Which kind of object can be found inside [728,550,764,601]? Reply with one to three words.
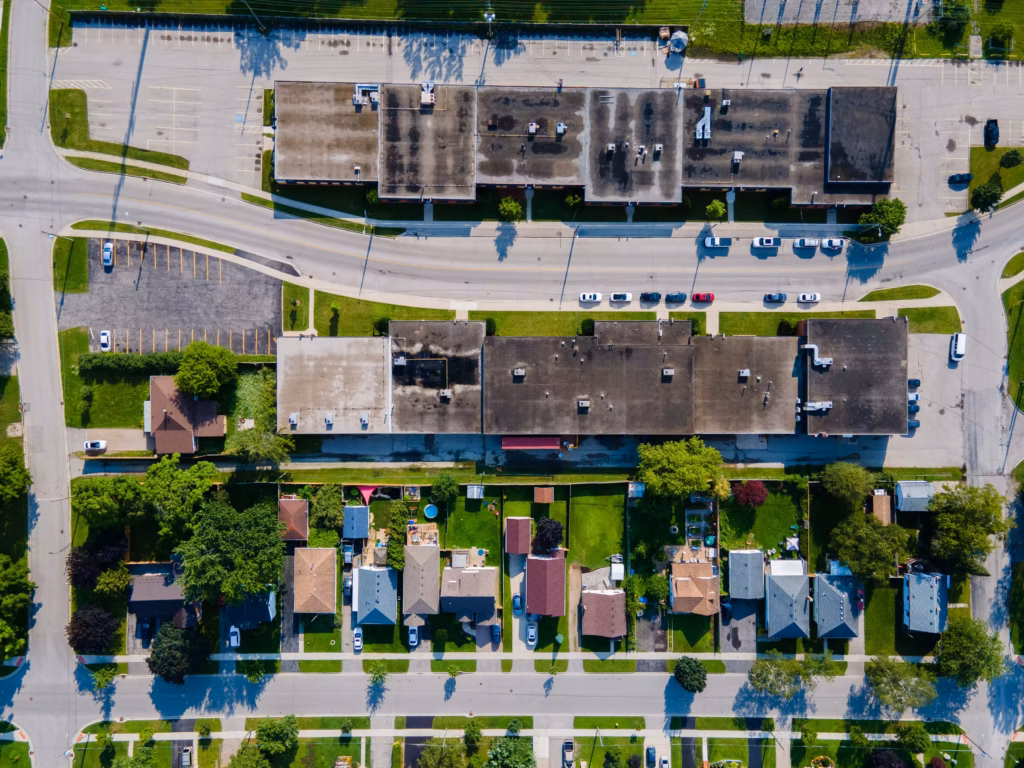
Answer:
building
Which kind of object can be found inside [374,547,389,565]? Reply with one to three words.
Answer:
gazebo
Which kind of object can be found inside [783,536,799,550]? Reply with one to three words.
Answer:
gazebo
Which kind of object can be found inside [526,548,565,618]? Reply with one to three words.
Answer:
house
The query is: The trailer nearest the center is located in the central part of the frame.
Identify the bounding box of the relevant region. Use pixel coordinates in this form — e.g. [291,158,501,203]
[502,436,560,449]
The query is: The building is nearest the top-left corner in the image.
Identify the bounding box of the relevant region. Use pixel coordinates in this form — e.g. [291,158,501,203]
[274,81,379,186]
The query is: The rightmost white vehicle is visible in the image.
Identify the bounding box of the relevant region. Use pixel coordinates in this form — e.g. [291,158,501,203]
[952,332,967,361]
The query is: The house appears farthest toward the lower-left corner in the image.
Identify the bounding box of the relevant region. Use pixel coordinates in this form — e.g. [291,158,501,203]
[126,562,201,629]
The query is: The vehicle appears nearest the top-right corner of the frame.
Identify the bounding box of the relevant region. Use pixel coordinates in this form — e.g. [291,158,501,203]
[985,120,998,147]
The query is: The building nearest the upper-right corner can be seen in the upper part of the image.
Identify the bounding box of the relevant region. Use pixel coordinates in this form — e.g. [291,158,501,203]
[826,86,897,184]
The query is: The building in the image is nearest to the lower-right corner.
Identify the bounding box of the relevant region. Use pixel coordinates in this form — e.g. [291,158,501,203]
[904,572,947,636]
